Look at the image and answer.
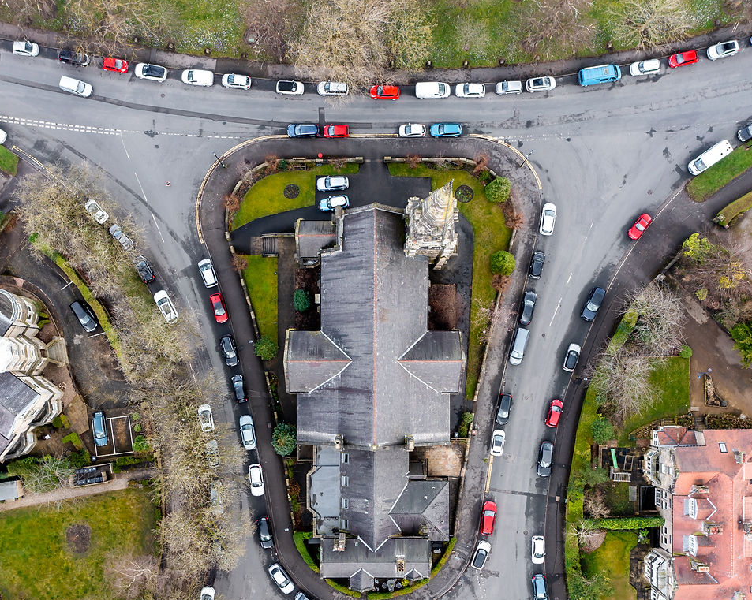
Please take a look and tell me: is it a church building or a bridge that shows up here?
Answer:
church building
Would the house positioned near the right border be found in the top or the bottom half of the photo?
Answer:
bottom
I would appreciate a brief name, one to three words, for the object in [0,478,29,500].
shed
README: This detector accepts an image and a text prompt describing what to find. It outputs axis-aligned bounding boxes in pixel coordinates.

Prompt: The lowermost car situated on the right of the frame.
[531,573,547,600]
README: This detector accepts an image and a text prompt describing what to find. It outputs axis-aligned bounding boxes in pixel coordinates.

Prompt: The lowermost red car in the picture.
[479,500,496,535]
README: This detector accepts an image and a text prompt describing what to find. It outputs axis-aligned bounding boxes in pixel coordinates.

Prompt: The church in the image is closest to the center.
[282,178,467,448]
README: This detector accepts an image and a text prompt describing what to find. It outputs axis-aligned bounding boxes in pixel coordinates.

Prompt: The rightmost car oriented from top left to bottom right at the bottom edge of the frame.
[266,560,297,593]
